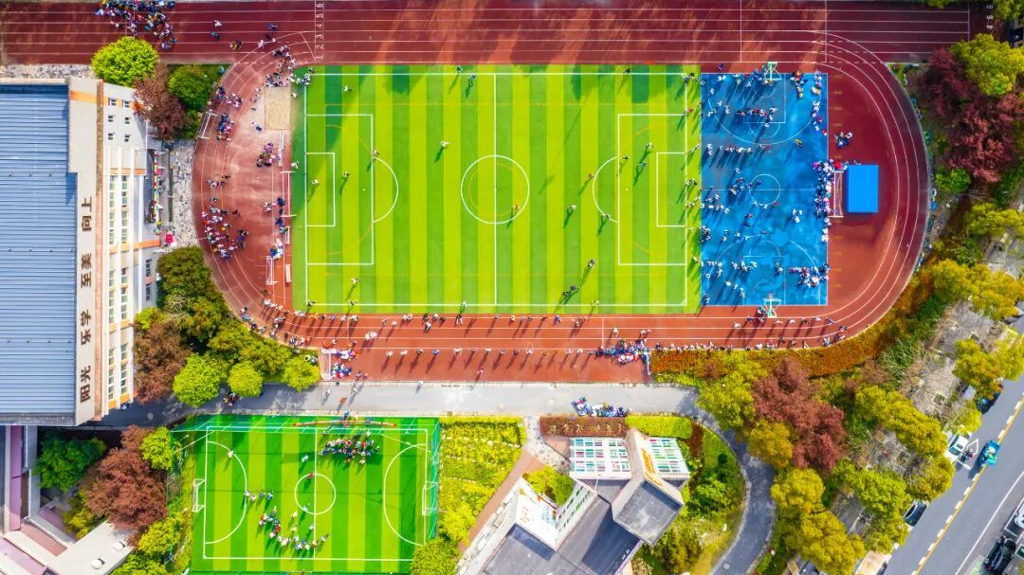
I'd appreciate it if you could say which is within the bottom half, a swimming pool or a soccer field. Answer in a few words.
soccer field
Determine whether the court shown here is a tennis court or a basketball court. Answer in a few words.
basketball court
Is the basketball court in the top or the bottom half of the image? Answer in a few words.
top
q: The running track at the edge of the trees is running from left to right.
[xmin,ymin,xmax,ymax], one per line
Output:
[0,0,1008,382]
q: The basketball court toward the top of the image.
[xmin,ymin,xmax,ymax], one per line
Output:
[701,72,828,307]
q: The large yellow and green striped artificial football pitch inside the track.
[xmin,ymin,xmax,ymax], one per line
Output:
[292,64,701,314]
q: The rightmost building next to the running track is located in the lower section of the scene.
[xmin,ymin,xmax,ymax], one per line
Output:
[451,427,693,575]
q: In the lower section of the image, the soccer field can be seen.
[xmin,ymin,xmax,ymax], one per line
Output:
[169,418,438,575]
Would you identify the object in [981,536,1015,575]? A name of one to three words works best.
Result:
car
